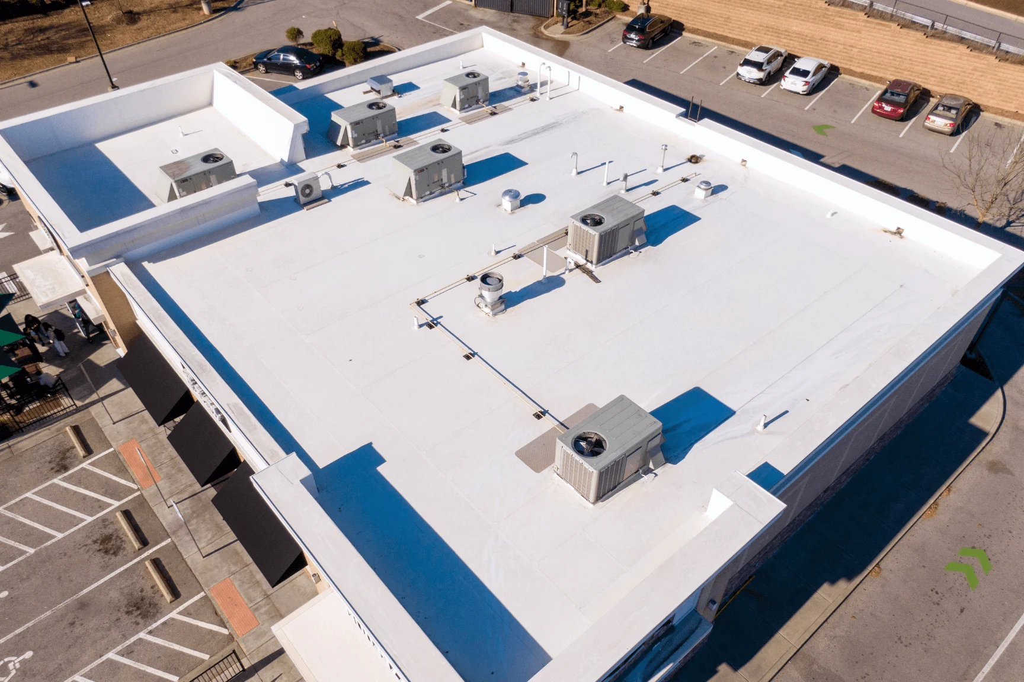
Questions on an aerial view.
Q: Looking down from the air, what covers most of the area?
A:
buildings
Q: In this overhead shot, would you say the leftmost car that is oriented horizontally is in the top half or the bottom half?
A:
top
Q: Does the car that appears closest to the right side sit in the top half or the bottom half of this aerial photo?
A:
top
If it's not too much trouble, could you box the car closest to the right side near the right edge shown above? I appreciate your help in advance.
[926,87,979,129]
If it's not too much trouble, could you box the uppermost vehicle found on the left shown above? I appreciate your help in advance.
[251,45,326,78]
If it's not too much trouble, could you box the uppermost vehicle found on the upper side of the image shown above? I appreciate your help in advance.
[629,9,679,46]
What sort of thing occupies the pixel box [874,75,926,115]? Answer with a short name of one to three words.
car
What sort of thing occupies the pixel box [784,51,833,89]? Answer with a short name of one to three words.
car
